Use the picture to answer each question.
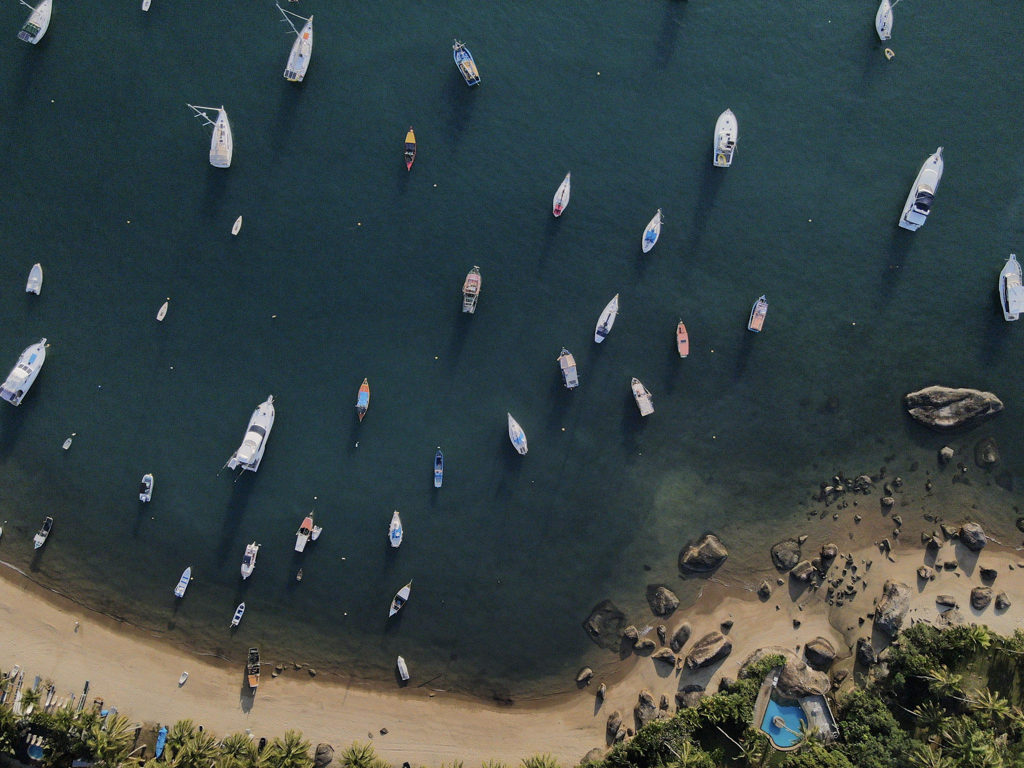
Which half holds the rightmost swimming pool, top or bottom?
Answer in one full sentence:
It is in the bottom half that the rightmost swimming pool appears.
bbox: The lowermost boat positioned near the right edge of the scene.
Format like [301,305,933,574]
[996,254,1024,321]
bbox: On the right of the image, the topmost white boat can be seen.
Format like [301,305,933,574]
[874,0,905,44]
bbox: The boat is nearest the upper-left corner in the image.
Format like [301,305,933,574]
[10,0,56,46]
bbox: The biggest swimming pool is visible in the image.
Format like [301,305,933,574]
[757,686,809,752]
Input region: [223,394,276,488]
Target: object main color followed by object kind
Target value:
white boat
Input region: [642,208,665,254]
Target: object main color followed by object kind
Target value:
white boat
